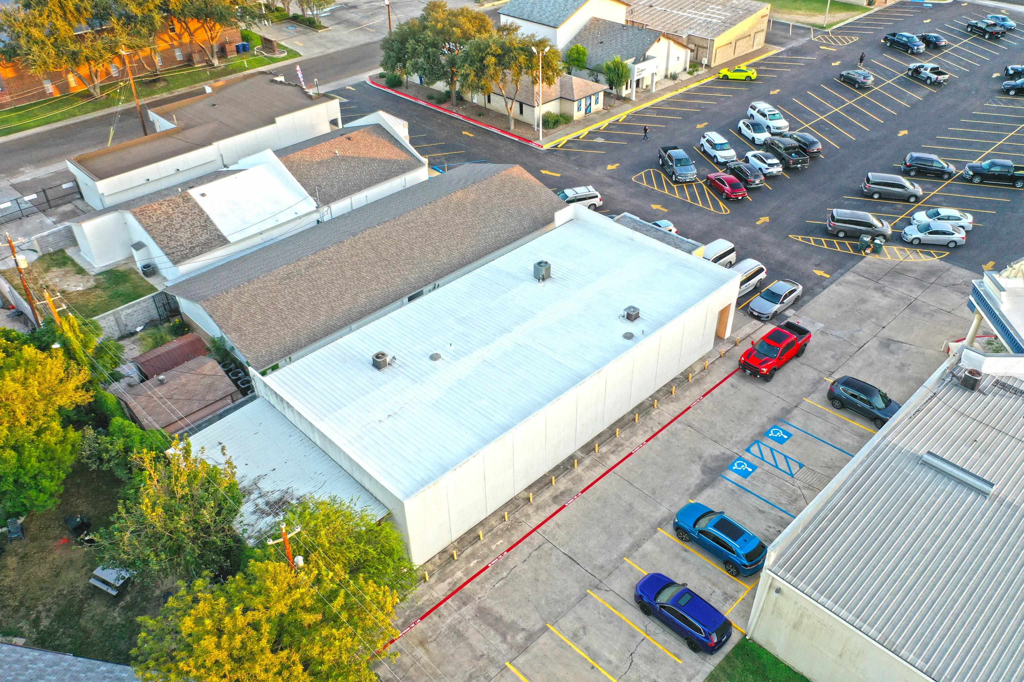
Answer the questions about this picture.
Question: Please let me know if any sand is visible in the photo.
No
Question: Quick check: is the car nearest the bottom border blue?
Yes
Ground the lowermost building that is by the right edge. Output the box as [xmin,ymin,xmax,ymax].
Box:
[744,342,1024,682]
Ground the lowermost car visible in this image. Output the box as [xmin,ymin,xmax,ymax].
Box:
[635,575,734,660]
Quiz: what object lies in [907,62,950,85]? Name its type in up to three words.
truck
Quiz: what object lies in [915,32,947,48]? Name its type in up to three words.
car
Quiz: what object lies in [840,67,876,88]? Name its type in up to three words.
car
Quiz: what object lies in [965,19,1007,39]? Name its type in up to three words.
vehicle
